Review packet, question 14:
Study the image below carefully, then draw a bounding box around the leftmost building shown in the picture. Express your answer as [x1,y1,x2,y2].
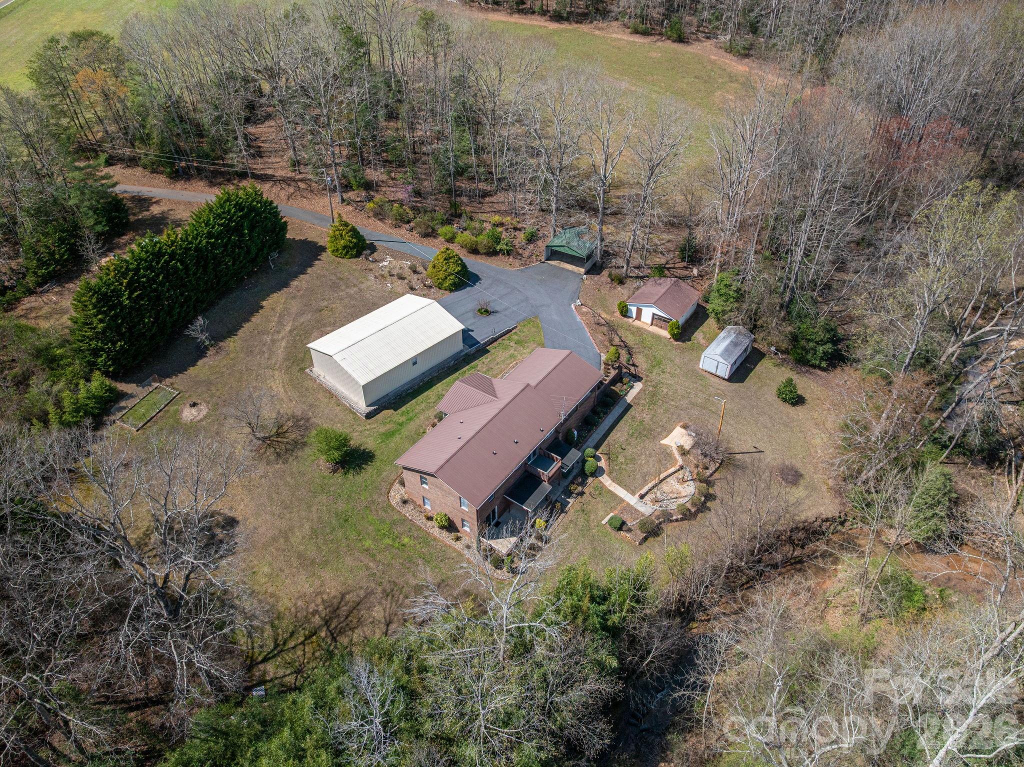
[306,294,465,407]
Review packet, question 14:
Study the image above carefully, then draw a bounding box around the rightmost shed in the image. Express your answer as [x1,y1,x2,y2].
[699,325,755,378]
